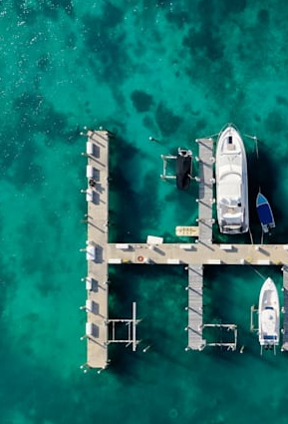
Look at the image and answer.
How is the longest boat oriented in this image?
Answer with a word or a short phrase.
from top to bottom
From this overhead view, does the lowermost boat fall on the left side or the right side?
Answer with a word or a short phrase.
right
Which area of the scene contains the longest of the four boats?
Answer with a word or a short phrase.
right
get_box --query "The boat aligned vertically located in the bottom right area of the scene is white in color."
[259,277,280,348]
